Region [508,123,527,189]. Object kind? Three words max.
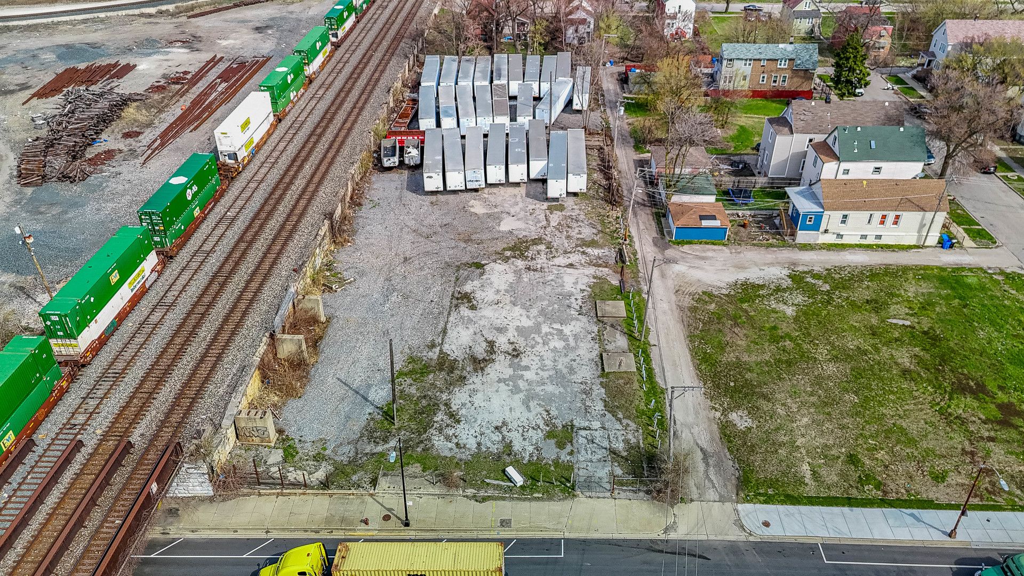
trailer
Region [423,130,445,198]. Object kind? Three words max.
trailer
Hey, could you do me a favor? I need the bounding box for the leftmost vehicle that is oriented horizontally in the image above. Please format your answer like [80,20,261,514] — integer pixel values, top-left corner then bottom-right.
[262,544,335,576]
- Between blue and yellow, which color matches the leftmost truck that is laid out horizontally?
yellow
